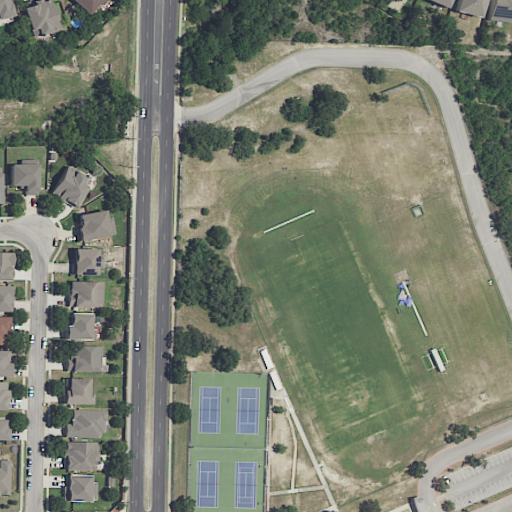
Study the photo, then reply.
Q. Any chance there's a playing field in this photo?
Yes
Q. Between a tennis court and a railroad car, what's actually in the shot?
tennis court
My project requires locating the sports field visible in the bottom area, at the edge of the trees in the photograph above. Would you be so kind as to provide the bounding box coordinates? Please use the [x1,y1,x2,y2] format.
[233,182,411,454]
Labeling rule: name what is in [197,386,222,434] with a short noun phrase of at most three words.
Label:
tennis court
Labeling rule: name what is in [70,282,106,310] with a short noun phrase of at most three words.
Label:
house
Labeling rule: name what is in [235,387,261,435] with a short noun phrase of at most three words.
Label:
tennis court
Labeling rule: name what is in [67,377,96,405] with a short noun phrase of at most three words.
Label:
house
